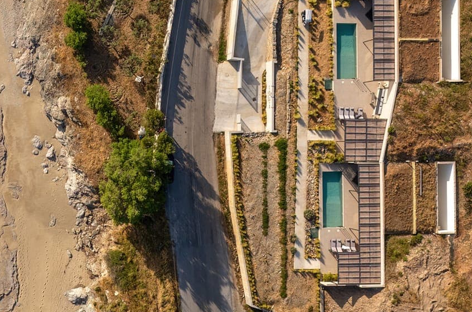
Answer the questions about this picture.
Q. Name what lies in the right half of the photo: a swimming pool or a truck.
swimming pool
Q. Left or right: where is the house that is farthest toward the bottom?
right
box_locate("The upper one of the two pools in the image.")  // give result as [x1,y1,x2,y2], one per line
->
[336,22,358,83]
